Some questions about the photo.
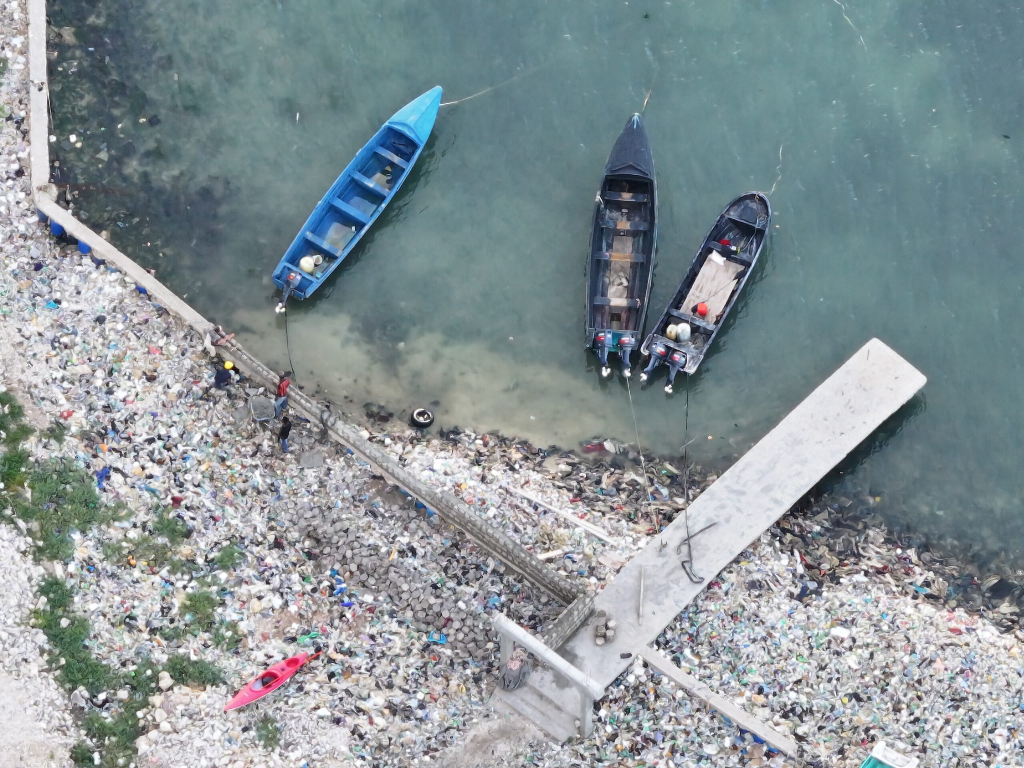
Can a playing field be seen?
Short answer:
No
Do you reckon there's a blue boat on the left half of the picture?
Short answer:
Yes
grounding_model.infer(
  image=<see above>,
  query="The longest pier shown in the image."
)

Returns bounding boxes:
[522,340,926,721]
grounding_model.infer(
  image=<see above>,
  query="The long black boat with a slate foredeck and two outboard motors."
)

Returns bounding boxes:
[586,112,656,384]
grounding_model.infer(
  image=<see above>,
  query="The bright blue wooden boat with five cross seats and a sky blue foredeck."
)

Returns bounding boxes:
[270,84,446,323]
